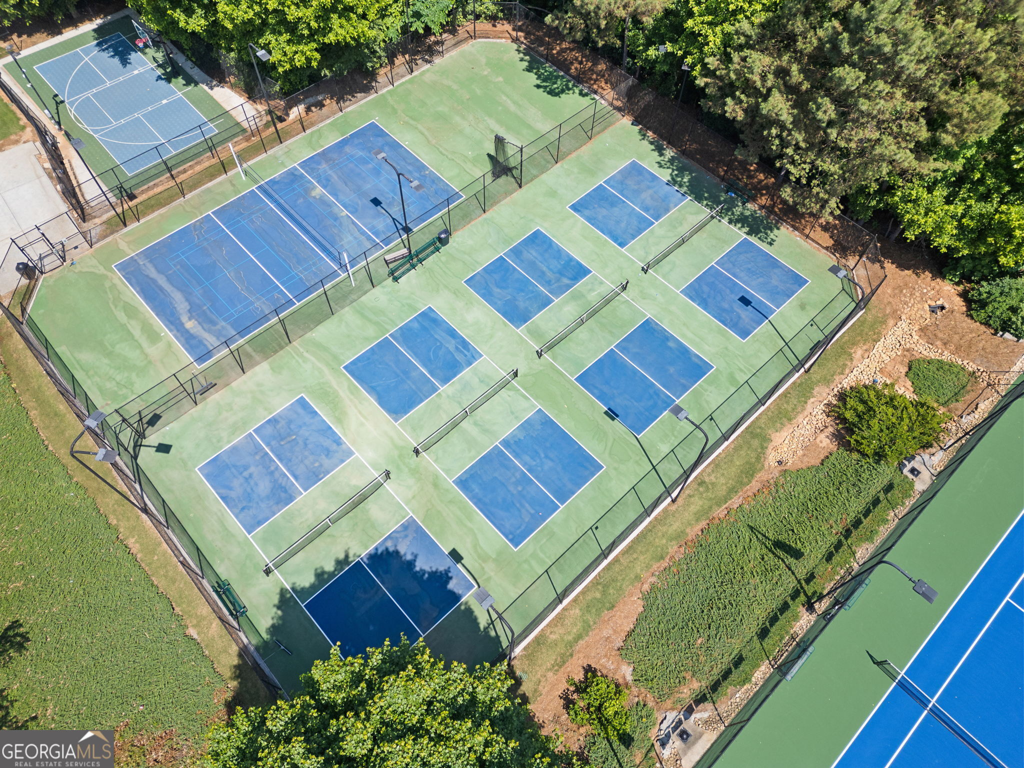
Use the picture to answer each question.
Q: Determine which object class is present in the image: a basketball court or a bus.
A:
basketball court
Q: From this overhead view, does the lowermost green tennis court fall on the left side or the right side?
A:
right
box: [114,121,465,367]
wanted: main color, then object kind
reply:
blue sports court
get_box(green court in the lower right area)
[695,396,1024,768]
